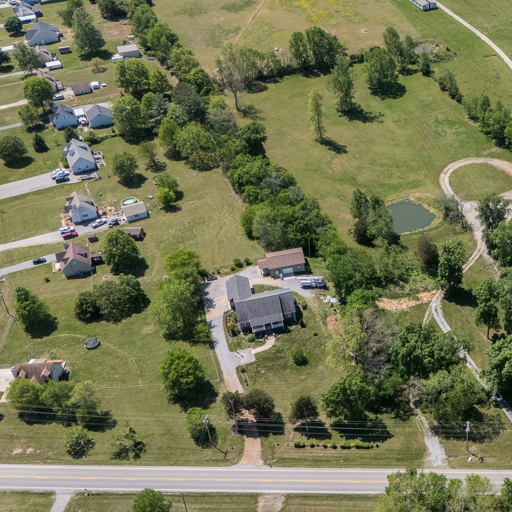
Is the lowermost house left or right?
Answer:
left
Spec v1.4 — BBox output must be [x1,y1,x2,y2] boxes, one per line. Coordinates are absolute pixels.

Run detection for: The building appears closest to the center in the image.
[255,249,306,278]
